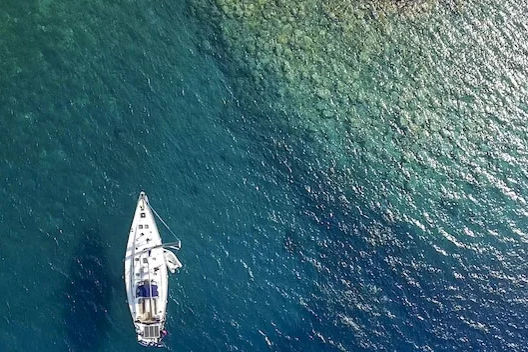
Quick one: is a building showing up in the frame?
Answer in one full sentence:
No, the frame has no building in it.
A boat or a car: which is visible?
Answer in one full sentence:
Visible in the photo is a boat.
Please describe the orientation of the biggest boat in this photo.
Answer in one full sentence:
I'd say the biggest boat is aligned up and down in the picture.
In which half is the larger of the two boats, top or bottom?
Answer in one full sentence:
The larger of the two boats is in the bottom half of the image.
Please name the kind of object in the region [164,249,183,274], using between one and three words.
boat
